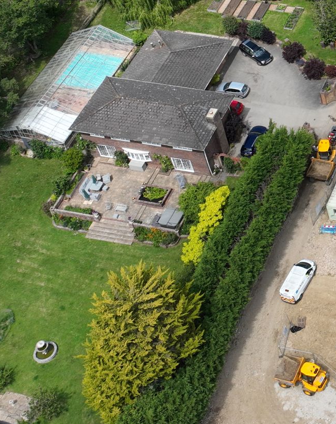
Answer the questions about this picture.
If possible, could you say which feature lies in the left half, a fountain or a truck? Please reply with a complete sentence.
There is a fountain in the left half.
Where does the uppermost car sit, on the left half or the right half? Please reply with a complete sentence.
It is on the right.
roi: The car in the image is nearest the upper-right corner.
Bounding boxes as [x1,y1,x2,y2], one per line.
[240,38,272,66]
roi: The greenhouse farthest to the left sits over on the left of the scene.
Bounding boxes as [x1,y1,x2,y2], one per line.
[0,28,139,155]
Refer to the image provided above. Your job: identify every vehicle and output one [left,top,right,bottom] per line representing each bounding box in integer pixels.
[229,100,251,120]
[241,123,271,157]
[218,83,251,100]
[308,133,336,173]
[265,261,307,306]
[269,355,321,394]
[240,38,272,66]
